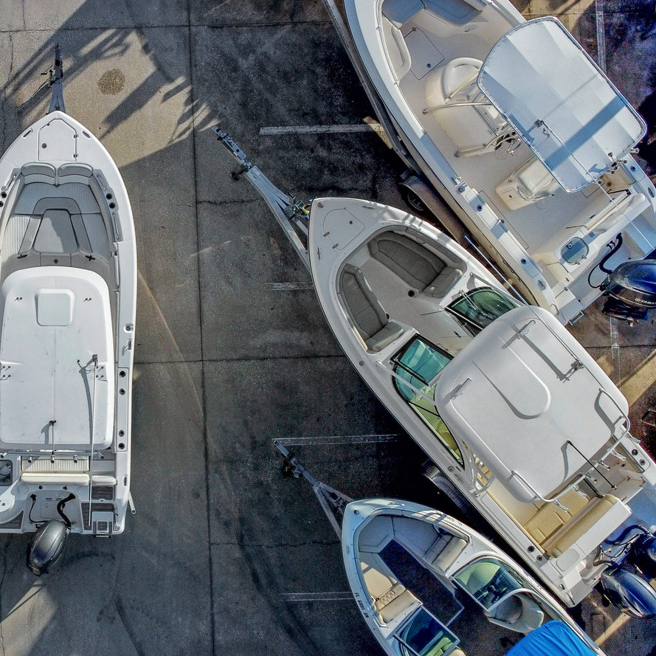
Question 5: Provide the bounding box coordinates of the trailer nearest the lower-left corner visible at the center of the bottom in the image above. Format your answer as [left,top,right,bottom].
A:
[258,428,361,595]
